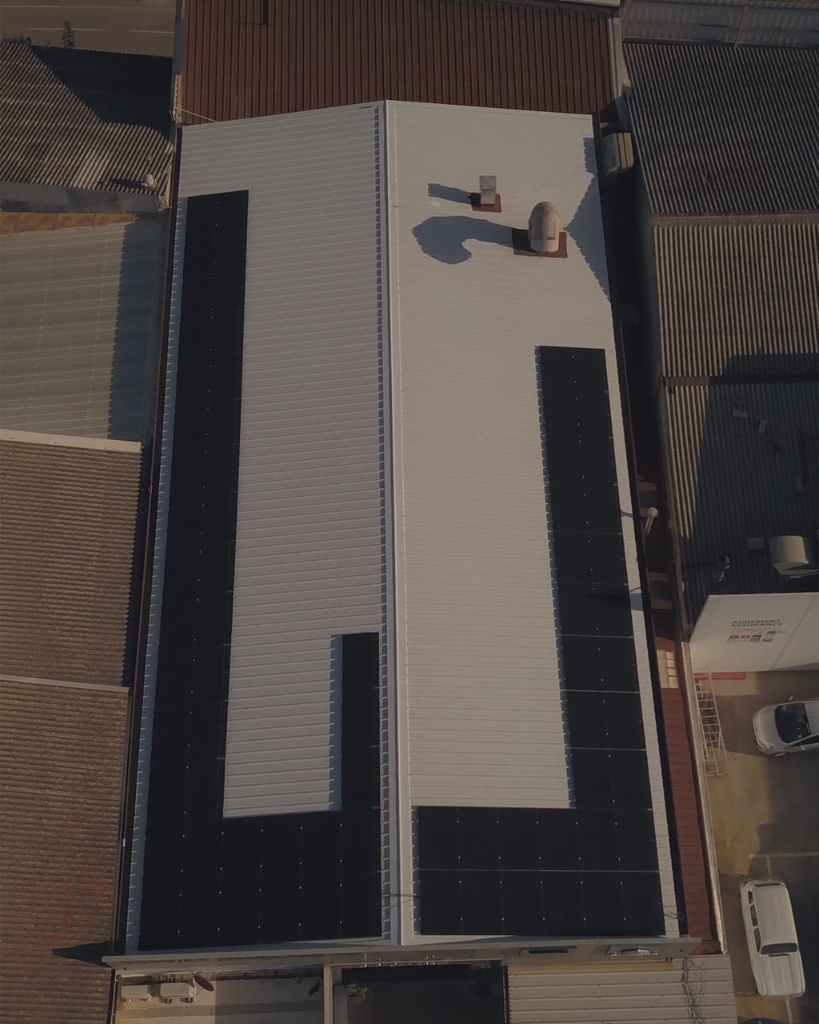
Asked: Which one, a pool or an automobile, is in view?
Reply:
automobile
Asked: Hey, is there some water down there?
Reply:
No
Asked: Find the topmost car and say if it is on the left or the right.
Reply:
right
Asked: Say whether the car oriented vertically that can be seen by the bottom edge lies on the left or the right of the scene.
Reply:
right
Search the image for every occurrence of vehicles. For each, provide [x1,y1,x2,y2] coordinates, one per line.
[750,690,819,753]
[739,875,806,1000]
[737,1014,781,1024]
